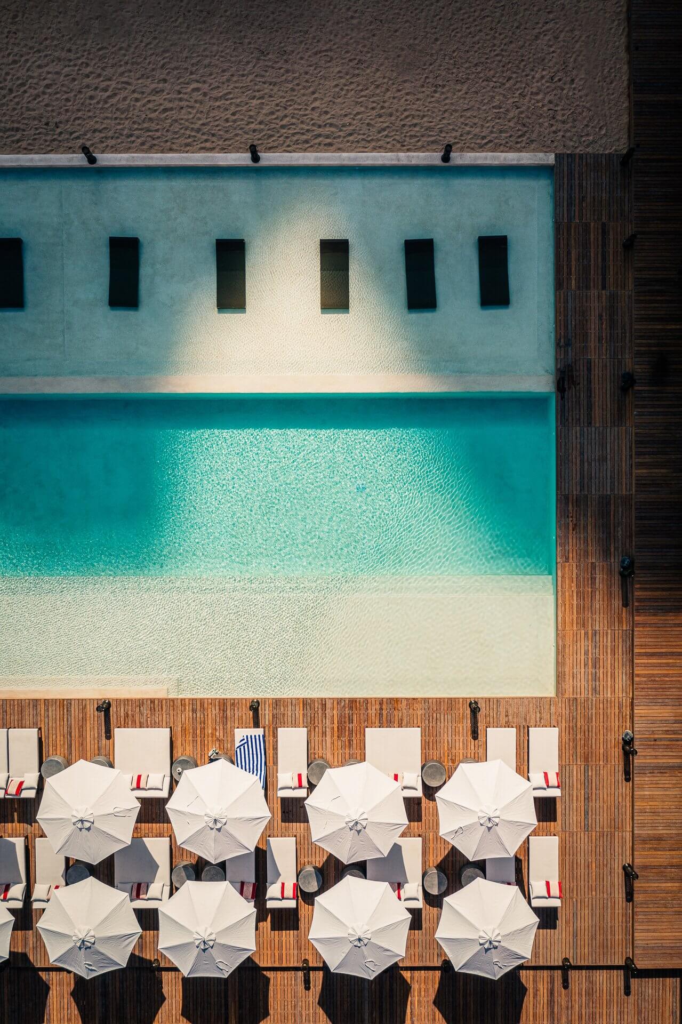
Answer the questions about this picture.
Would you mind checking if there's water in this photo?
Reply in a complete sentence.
Yes, there's water in this view.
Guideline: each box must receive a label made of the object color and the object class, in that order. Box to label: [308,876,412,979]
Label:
white umbrella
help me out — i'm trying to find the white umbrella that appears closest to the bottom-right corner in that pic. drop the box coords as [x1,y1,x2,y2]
[435,876,539,981]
